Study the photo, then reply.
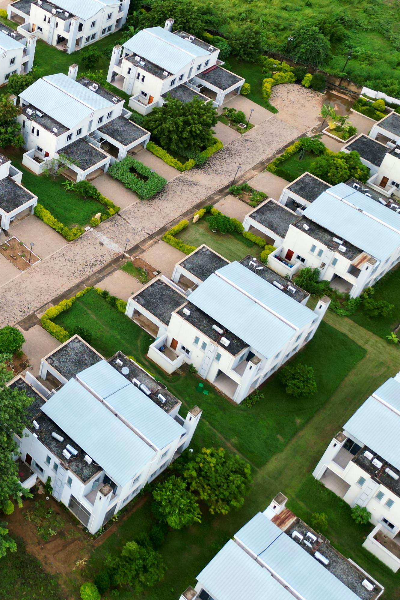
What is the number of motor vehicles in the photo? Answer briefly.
0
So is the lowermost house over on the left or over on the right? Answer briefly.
right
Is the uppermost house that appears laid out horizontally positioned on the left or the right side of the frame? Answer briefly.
left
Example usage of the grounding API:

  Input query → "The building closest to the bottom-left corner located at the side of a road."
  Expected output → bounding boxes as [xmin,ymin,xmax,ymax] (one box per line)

[0,335,202,531]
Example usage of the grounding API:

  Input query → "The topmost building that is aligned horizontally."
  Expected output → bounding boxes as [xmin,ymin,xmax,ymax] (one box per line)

[7,0,132,53]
